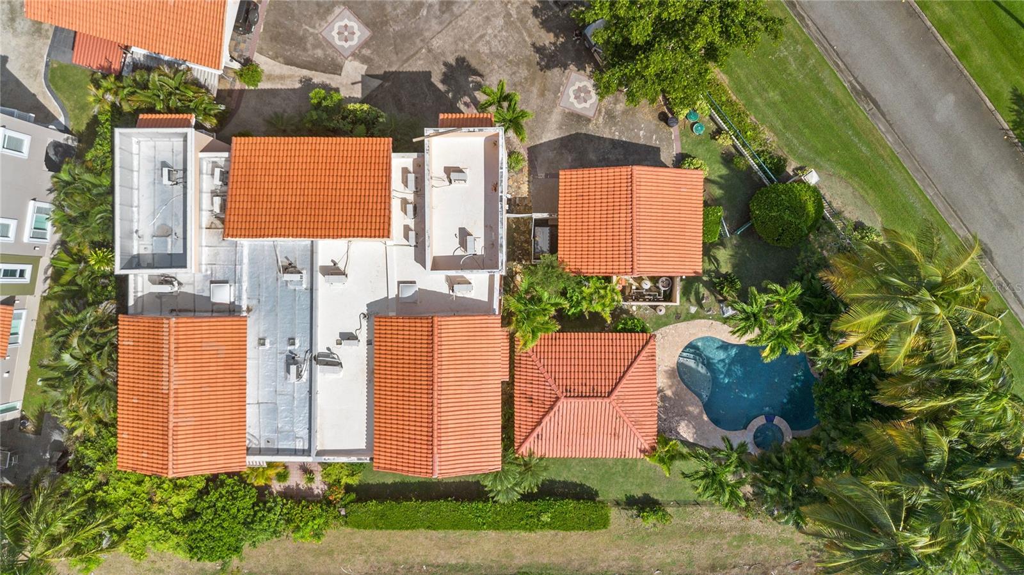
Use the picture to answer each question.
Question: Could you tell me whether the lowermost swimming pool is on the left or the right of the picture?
right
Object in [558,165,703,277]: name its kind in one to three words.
building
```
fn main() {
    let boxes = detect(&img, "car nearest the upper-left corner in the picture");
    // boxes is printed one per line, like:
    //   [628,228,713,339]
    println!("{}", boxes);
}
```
[227,0,260,33]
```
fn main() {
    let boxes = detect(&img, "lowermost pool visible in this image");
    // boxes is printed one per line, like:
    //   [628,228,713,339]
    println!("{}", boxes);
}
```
[677,336,825,449]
